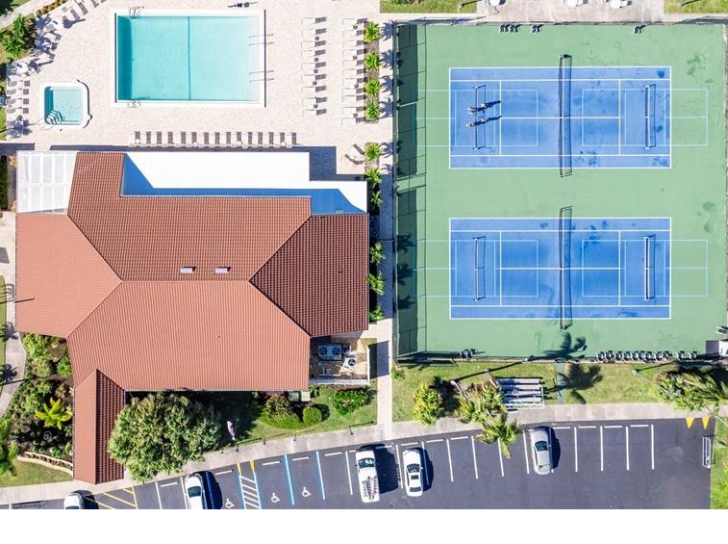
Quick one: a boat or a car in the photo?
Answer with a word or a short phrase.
car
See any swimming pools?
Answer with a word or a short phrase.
Yes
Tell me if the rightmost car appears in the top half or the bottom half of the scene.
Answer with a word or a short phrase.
bottom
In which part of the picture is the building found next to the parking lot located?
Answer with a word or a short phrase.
left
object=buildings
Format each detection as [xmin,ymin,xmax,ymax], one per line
[15,151,369,484]
[711,341,728,361]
